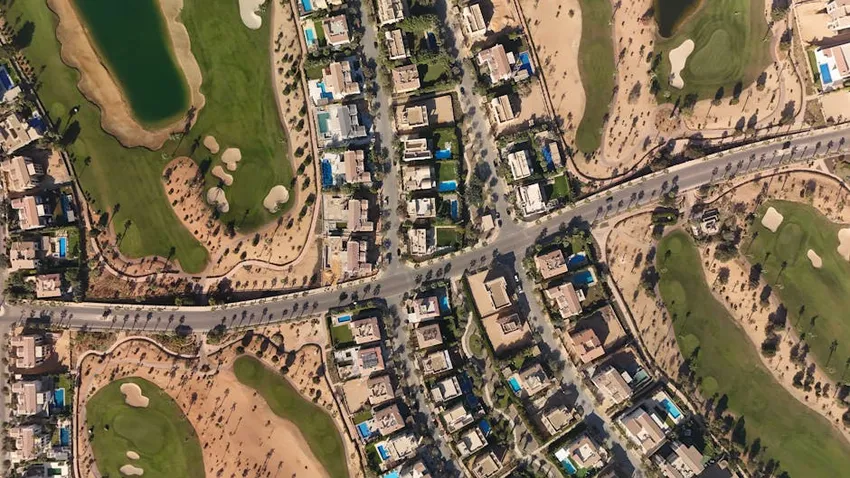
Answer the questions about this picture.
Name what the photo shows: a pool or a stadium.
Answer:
pool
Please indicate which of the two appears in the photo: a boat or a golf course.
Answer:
golf course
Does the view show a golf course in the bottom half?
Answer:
Yes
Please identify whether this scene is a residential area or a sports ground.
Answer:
residential area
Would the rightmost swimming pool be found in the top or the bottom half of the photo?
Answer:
top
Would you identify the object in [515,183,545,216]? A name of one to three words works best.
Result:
house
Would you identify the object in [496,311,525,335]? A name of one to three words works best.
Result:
house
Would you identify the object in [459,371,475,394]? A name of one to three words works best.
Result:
swimming pool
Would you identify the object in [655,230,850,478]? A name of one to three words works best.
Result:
golf course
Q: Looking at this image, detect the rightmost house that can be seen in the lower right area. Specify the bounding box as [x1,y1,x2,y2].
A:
[659,442,705,478]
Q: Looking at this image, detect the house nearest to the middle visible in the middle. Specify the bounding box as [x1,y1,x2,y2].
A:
[408,228,431,257]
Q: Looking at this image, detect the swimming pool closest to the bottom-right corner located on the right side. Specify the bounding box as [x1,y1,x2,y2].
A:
[654,390,684,422]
